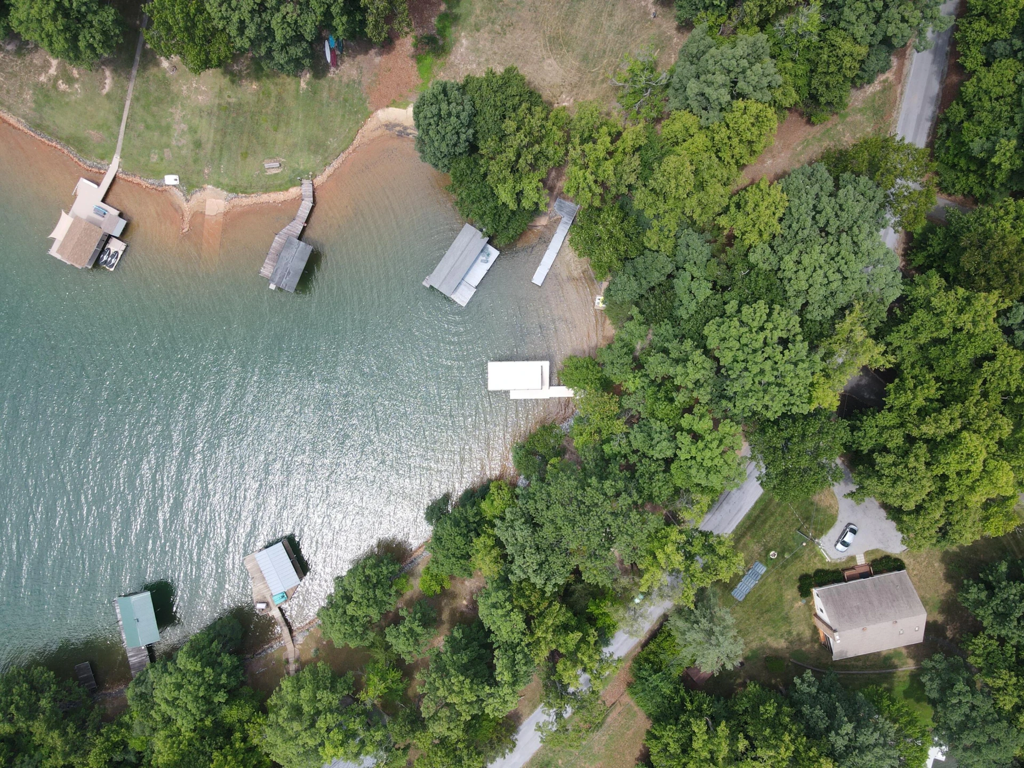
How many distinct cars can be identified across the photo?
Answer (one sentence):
There is 1 car in the image.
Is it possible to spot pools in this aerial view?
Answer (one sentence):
No, there isn't any pool down there.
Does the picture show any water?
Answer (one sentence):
Yes, there is water in the image.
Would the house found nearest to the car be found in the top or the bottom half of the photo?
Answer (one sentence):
Seen from above, the house found nearest to the car lies in the bottom half of the view.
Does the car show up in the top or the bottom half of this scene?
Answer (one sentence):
It is in the bottom half that the car appears.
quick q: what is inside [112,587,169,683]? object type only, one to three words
building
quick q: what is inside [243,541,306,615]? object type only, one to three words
building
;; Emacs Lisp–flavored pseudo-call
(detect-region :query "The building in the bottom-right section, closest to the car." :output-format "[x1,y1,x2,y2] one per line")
[808,560,927,662]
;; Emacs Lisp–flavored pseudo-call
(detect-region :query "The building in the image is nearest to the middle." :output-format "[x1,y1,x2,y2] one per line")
[488,361,549,399]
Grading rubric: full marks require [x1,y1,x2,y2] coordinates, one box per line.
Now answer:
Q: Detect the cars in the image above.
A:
[834,522,856,552]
